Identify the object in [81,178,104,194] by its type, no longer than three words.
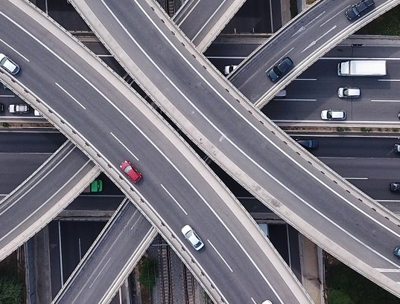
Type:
vehicle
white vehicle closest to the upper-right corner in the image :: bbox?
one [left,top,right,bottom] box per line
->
[336,61,387,77]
